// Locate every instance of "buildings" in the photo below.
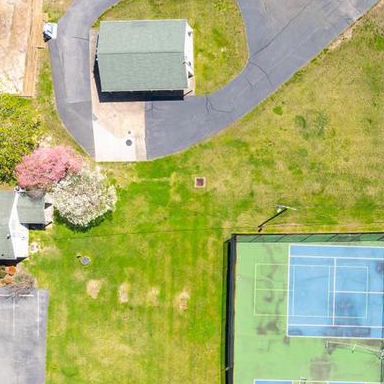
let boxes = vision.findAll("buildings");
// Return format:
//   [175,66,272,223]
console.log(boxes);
[97,20,198,95]
[0,188,56,262]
